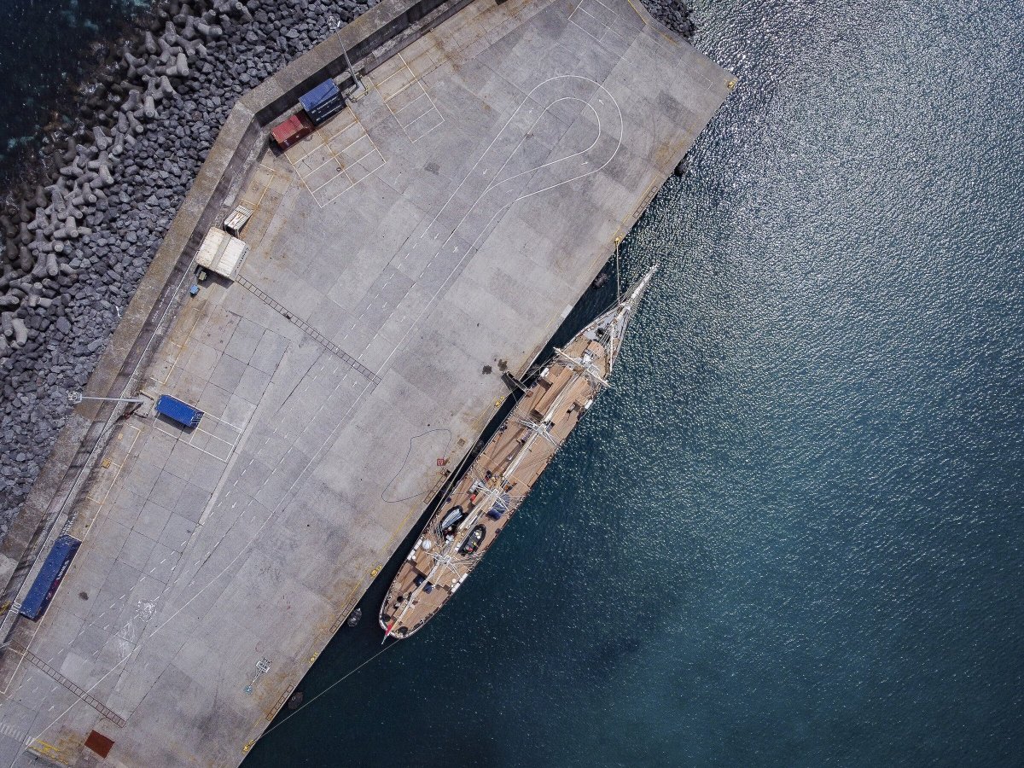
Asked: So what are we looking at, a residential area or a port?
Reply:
port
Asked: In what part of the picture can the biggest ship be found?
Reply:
center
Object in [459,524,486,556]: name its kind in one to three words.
boat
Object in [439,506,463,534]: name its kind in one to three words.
boat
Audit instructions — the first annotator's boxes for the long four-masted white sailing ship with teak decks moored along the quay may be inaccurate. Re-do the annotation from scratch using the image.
[379,264,657,643]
